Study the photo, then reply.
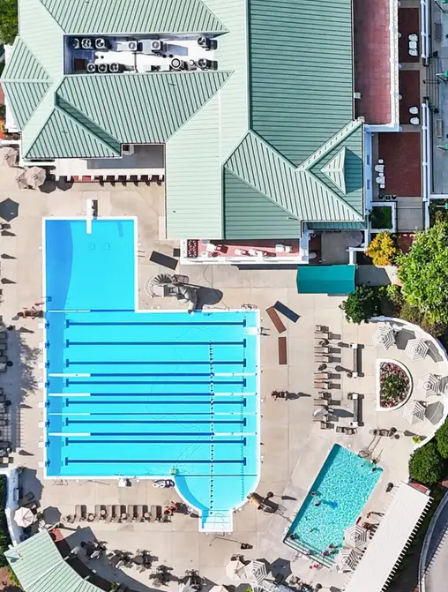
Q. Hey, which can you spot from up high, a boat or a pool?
pool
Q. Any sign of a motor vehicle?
No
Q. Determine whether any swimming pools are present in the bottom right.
Yes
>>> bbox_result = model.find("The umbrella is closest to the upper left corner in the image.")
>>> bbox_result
[0,144,24,169]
